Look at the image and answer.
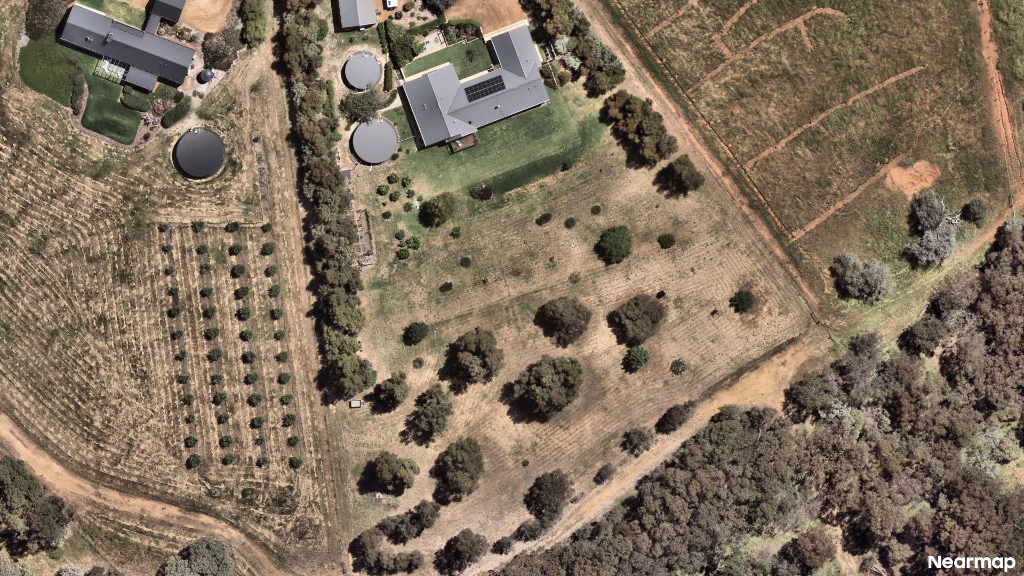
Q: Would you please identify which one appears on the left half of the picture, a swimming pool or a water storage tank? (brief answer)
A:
water storage tank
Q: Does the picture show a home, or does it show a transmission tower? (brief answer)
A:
home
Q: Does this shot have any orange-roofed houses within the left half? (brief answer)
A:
No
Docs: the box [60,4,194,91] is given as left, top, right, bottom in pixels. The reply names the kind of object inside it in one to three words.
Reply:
house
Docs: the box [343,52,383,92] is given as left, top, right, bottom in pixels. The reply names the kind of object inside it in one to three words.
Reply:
water tank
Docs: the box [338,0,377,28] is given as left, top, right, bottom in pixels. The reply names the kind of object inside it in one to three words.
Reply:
shed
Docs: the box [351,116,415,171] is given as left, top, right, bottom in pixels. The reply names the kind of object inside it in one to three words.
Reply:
water tank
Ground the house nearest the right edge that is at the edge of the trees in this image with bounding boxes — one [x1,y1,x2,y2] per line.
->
[403,25,551,146]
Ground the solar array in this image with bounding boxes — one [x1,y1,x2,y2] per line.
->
[464,75,505,102]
